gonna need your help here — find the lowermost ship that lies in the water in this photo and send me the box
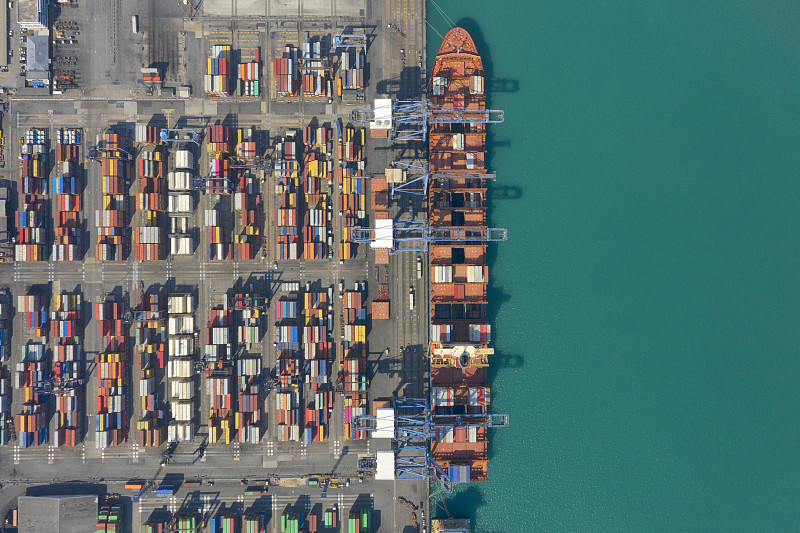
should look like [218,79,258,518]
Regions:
[431,506,471,533]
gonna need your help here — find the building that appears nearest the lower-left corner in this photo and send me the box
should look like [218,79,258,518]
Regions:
[16,492,104,533]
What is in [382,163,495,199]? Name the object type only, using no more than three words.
container crane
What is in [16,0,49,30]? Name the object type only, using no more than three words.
building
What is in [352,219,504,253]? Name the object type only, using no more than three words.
container crane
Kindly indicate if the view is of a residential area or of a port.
port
